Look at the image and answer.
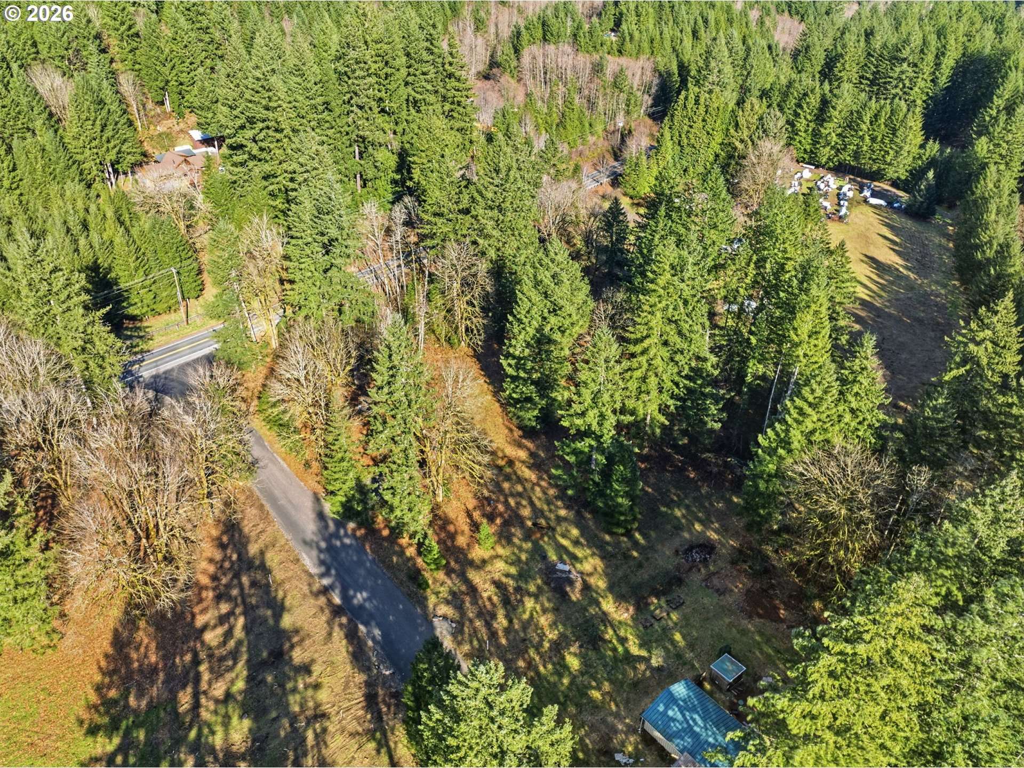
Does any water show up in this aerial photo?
No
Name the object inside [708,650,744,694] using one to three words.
shed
